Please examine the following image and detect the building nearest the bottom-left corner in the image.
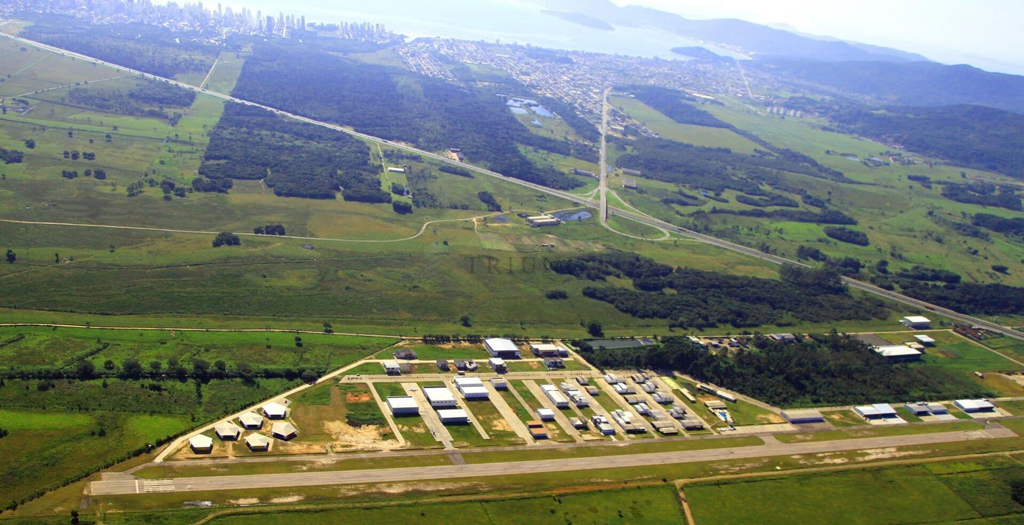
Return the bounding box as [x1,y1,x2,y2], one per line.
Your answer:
[187,435,214,451]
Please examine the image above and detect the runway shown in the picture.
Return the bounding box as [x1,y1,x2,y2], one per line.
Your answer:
[92,427,1018,495]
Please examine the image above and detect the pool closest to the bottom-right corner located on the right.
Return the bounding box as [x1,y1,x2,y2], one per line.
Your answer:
[713,409,734,423]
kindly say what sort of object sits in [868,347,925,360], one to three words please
building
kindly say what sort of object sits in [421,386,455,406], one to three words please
hangar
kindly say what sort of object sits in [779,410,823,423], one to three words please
hangar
